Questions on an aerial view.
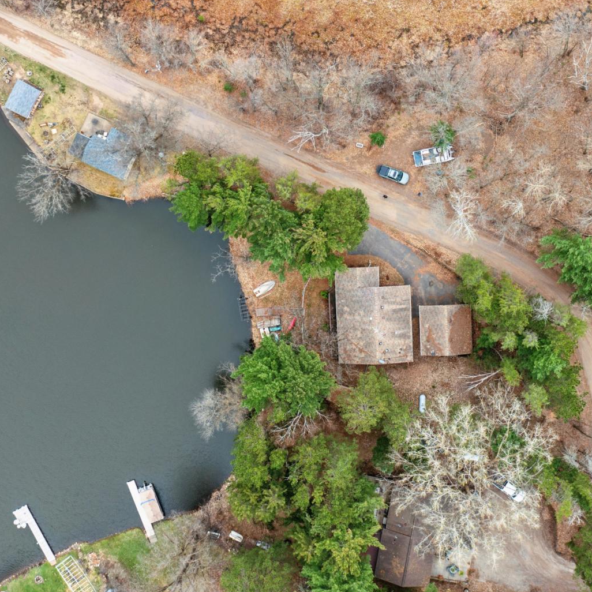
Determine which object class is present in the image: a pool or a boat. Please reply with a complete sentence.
The image shows a boat.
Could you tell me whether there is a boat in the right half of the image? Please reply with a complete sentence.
Yes, you'll find a boat in the right half of the image.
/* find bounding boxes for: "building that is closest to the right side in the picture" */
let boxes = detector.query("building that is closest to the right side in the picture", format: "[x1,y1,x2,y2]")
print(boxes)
[419,304,472,356]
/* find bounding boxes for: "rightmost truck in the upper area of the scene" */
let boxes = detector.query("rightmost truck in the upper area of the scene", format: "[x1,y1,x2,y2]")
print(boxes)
[374,163,411,186]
